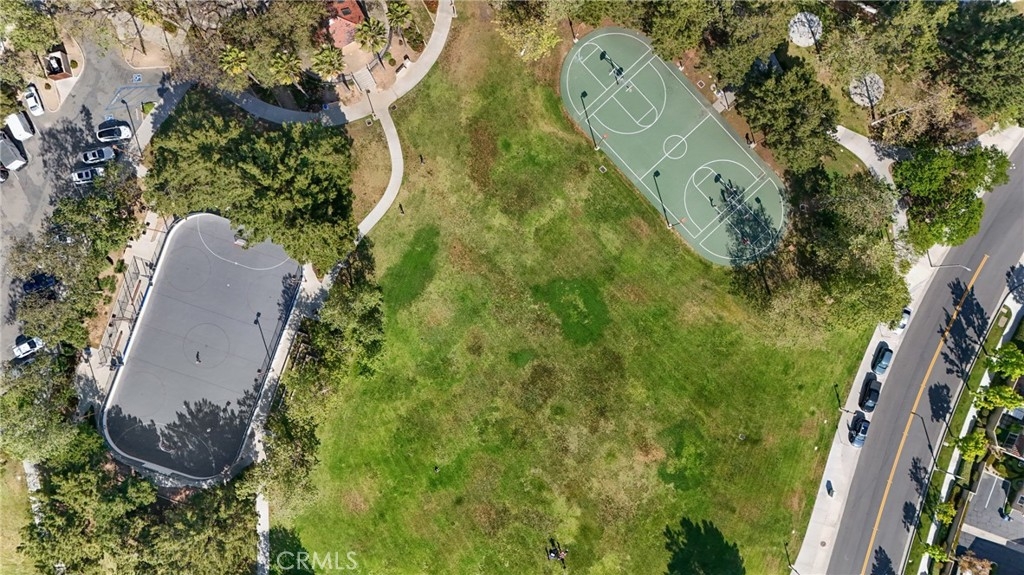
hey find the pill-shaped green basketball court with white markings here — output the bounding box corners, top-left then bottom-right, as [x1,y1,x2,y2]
[559,25,791,268]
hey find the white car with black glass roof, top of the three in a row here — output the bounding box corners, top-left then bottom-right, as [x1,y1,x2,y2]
[99,123,132,139]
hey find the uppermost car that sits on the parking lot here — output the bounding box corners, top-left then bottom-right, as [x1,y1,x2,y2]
[22,84,44,115]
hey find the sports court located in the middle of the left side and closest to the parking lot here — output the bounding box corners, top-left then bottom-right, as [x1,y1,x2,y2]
[101,209,307,484]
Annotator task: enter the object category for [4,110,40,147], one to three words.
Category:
van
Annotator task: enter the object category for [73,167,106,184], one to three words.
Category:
car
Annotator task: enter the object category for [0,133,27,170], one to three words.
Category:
vehicle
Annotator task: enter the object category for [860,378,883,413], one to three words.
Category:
truck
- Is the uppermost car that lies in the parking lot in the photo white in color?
Yes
